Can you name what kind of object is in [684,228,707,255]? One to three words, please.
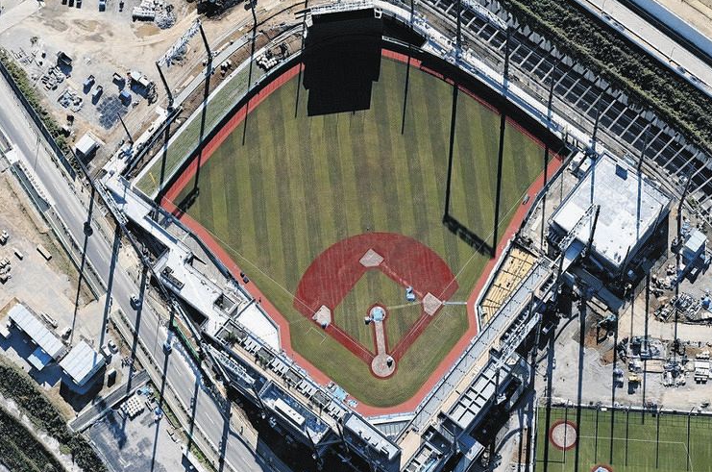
shed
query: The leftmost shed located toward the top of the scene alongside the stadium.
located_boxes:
[74,132,103,163]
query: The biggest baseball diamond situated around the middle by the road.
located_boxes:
[160,38,564,416]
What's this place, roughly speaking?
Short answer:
sports ground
